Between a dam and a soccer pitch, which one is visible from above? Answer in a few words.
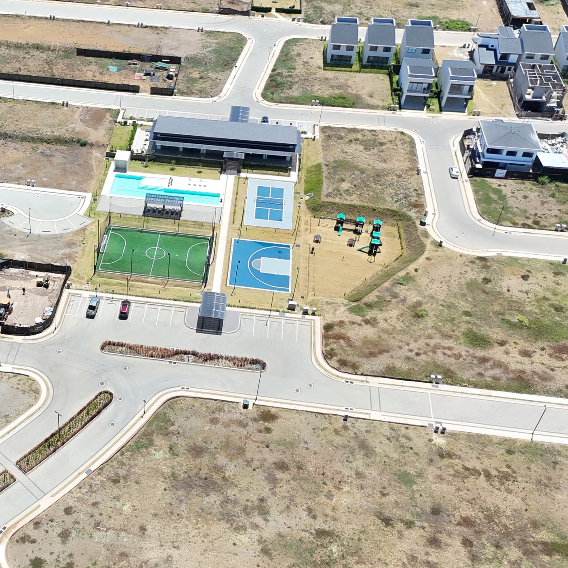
soccer pitch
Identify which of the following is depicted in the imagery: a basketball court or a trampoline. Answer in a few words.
basketball court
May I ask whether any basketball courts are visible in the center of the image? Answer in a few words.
Yes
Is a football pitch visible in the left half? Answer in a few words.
Yes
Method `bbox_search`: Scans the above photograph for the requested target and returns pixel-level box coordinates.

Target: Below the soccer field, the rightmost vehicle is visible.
[118,301,130,319]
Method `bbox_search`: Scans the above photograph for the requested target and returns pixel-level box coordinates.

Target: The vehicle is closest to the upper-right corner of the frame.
[449,167,461,179]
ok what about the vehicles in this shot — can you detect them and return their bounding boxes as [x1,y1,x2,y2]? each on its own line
[261,115,269,124]
[33,271,53,288]
[449,167,461,179]
[85,298,98,318]
[0,299,15,329]
[118,301,130,319]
